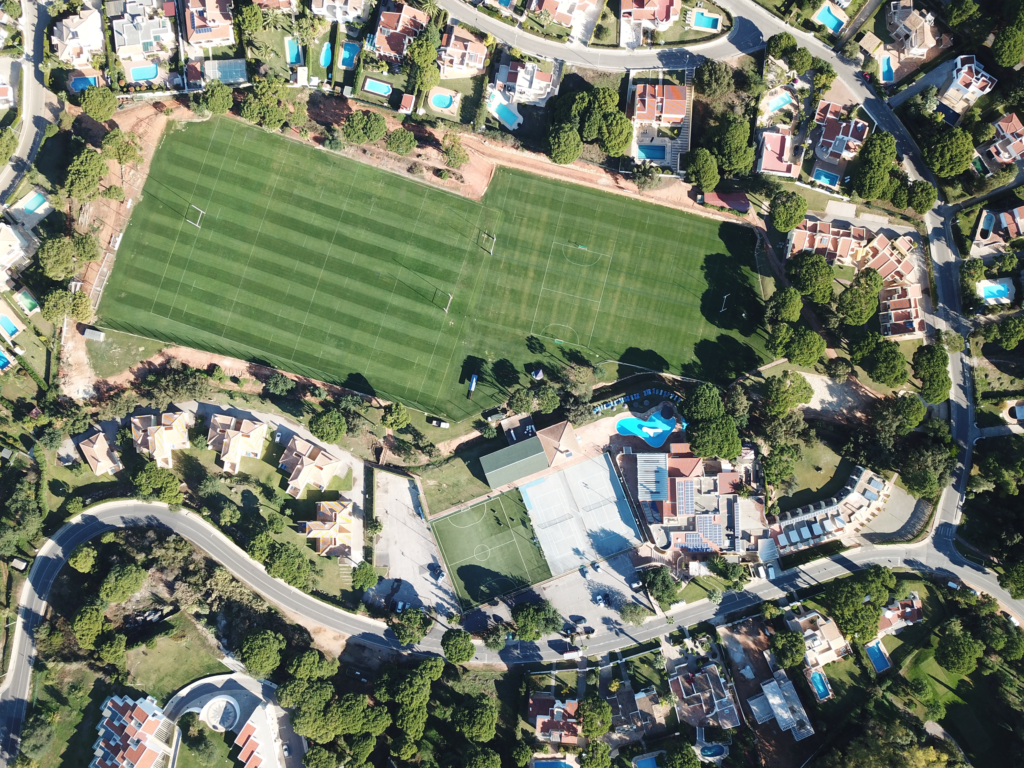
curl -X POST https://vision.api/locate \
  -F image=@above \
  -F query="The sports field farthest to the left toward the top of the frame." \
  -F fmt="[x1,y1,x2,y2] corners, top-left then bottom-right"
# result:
[95,116,504,422]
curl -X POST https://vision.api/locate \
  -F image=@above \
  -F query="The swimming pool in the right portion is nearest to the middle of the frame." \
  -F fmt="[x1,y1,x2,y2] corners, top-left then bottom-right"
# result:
[615,408,677,449]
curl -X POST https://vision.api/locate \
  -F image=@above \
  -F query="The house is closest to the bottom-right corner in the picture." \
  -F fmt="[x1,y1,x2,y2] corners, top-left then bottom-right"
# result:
[875,591,924,635]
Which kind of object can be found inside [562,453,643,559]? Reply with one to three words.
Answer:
tennis court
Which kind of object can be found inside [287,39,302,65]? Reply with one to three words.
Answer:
swimming pool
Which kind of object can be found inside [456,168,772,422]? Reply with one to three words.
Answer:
sports field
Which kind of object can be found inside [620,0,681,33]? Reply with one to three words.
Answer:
house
